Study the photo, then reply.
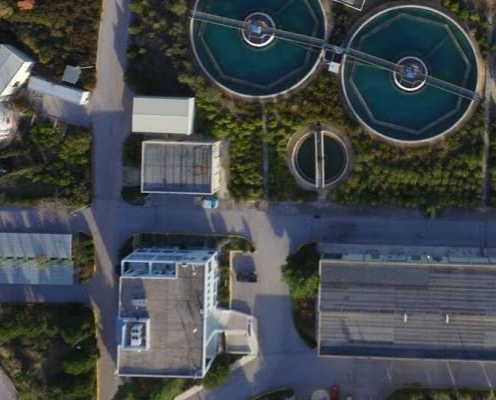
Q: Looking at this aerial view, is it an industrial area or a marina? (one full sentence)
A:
What you see here is an industrial area.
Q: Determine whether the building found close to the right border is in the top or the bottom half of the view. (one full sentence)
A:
The building found close to the right border is in the bottom half of the image.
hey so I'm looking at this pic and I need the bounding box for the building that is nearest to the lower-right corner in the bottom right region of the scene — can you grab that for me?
[317,247,496,364]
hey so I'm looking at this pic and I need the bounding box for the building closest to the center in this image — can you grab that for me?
[140,139,220,195]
